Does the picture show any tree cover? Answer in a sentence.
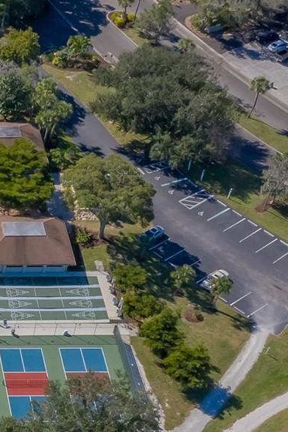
Yes, the picture does contain tree cover.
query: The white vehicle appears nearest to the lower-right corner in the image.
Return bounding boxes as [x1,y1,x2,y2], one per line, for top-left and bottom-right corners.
[203,268,229,285]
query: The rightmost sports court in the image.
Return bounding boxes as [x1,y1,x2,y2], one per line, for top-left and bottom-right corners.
[59,347,113,419]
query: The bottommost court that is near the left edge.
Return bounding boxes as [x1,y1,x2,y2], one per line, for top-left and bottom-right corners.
[0,347,51,421]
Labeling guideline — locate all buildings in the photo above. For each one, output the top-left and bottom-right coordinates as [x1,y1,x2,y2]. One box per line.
[0,216,76,276]
[0,123,50,175]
